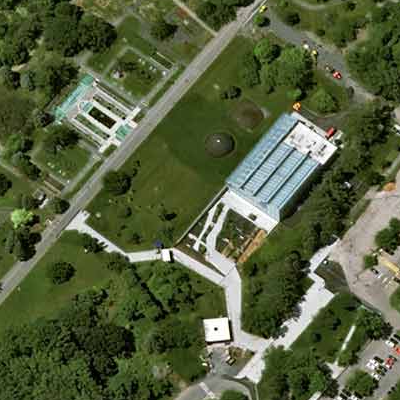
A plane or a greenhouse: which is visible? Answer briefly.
greenhouse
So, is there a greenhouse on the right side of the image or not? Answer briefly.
Yes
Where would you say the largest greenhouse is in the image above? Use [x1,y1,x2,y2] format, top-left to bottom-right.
[221,109,337,232]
